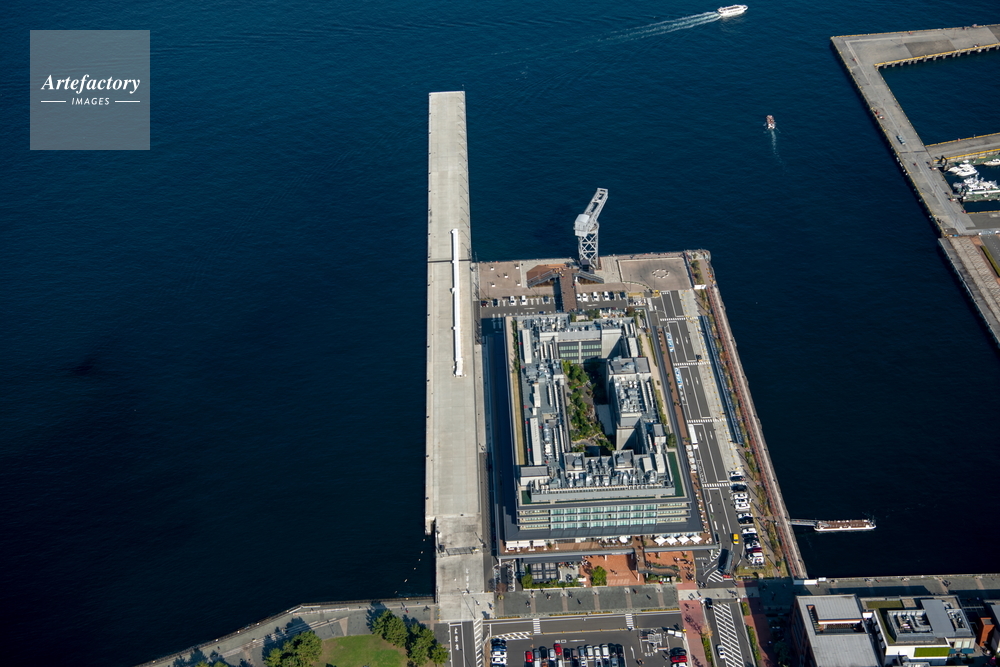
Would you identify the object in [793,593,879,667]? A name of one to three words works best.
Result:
building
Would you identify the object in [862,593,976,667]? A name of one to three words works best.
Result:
building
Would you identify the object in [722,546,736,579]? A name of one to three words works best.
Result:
vehicle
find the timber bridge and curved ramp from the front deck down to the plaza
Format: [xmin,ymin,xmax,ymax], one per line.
[634,549,680,580]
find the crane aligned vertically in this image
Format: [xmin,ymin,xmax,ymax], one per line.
[573,186,609,271]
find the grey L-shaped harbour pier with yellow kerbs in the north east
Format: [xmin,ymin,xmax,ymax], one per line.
[831,24,1000,237]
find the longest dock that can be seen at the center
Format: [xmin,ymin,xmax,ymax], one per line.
[422,91,481,540]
